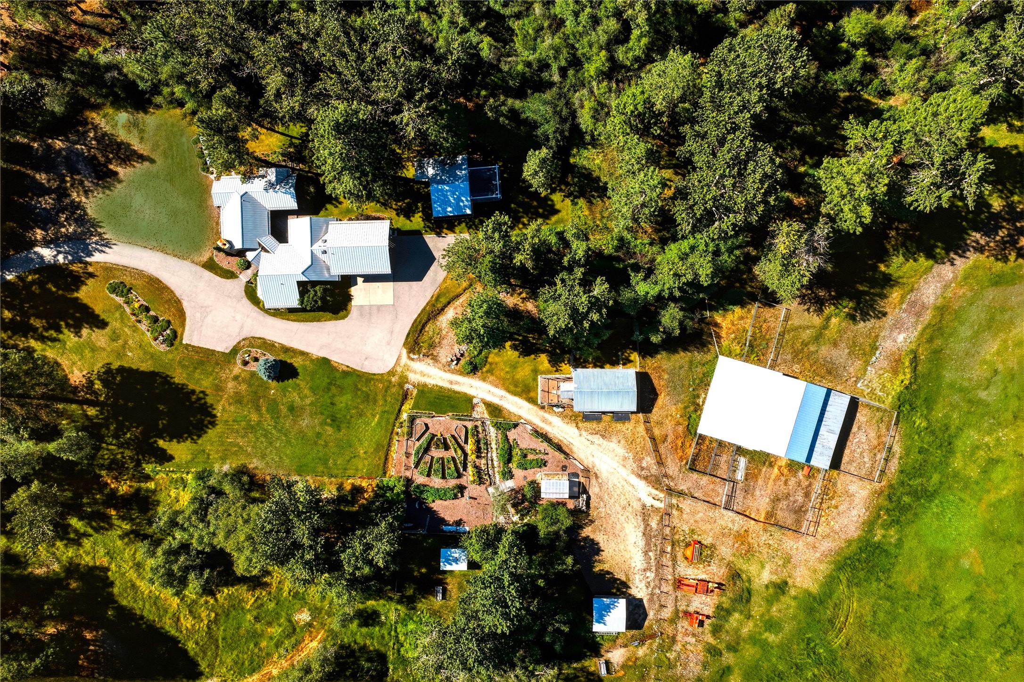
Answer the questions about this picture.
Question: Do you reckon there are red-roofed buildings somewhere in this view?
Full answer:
No, no red-roofed building is visible in the view.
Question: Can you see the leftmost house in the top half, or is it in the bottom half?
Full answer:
The top half of the photo is where the leftmost house is.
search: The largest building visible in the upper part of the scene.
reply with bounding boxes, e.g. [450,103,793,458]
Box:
[211,168,396,308]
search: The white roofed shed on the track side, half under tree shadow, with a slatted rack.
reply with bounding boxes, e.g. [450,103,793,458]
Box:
[592,595,626,632]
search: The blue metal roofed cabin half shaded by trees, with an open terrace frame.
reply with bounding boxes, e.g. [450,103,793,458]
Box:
[415,155,502,220]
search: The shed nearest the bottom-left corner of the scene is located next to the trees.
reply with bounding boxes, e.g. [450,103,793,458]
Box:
[441,546,467,570]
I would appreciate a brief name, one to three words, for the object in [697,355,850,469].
barn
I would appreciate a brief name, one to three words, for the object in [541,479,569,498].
greenhouse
